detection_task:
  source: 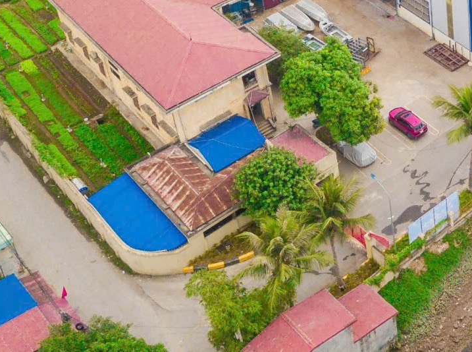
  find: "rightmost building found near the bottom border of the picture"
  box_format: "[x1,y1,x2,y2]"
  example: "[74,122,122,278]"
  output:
[232,261,398,352]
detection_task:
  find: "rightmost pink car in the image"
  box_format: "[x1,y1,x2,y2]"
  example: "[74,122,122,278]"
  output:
[387,107,434,143]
